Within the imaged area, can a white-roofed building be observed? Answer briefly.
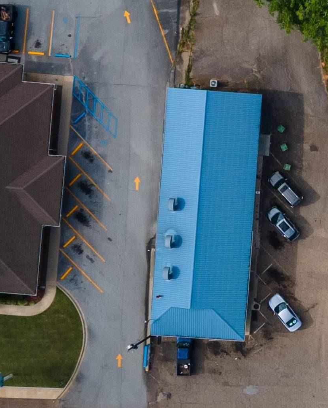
No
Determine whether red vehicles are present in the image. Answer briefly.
No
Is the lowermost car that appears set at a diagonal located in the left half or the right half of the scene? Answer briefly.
right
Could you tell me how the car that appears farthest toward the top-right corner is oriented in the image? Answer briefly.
diagonally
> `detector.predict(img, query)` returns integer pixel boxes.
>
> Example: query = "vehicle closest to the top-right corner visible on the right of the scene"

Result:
[269,171,305,208]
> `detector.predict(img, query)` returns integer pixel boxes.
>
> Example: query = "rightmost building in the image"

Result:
[149,87,267,342]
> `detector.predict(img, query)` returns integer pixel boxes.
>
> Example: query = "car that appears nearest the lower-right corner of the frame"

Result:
[268,293,303,332]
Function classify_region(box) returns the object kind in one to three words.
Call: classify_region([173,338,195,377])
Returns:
truck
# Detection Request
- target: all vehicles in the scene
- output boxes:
[0,3,17,55]
[173,338,195,377]
[268,293,303,332]
[269,171,305,208]
[267,206,301,242]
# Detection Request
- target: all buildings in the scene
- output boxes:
[149,87,267,342]
[0,56,70,297]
